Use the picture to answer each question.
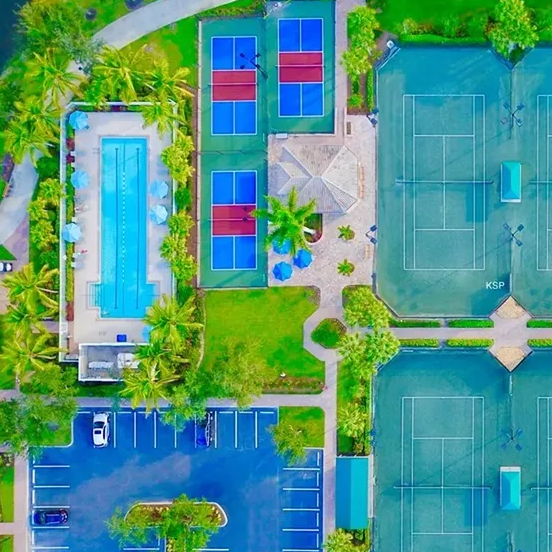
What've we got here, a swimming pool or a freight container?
swimming pool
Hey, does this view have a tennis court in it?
Yes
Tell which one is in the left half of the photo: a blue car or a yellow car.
blue car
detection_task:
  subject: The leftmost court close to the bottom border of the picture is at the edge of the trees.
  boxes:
[374,351,510,552]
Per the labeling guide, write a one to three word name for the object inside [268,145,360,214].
building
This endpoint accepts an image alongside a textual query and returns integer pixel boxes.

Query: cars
[195,411,214,448]
[92,411,111,448]
[33,510,70,528]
